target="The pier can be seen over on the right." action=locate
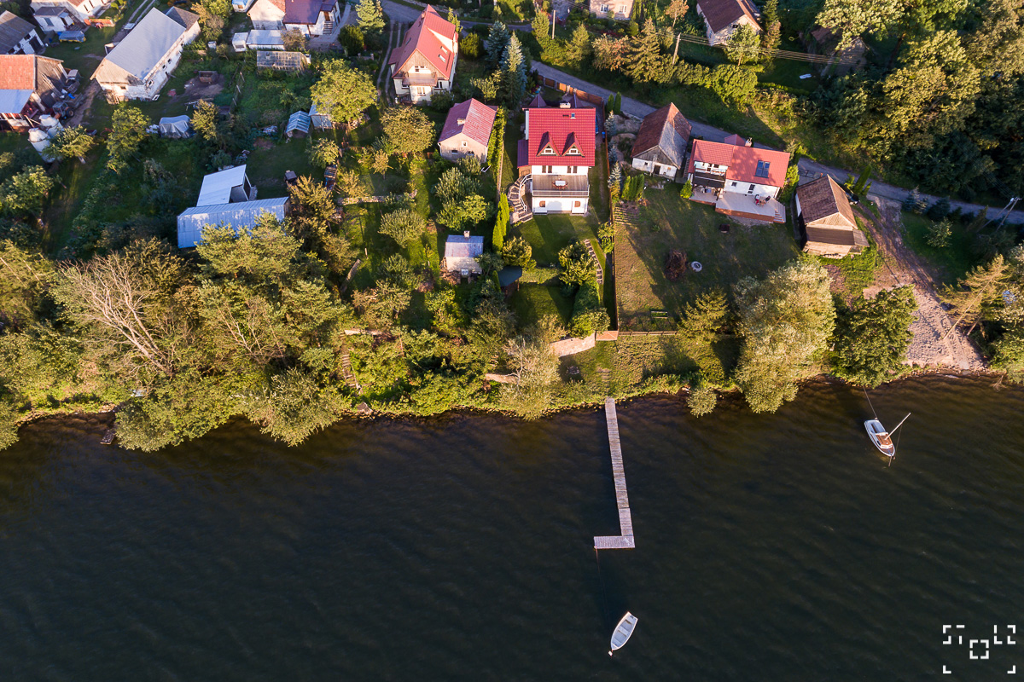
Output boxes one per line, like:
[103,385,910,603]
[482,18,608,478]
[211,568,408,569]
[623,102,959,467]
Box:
[594,398,635,551]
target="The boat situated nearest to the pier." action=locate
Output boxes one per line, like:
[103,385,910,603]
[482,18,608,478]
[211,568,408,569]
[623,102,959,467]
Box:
[612,611,639,651]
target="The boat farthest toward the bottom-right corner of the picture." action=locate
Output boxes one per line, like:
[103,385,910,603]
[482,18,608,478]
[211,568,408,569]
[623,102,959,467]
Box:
[864,408,903,465]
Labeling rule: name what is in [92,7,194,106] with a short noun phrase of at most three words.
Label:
barn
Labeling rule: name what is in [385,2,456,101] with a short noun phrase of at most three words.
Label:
house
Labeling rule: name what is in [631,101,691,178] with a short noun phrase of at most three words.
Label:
barn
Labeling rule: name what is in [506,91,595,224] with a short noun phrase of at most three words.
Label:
house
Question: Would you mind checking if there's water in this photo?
Yes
